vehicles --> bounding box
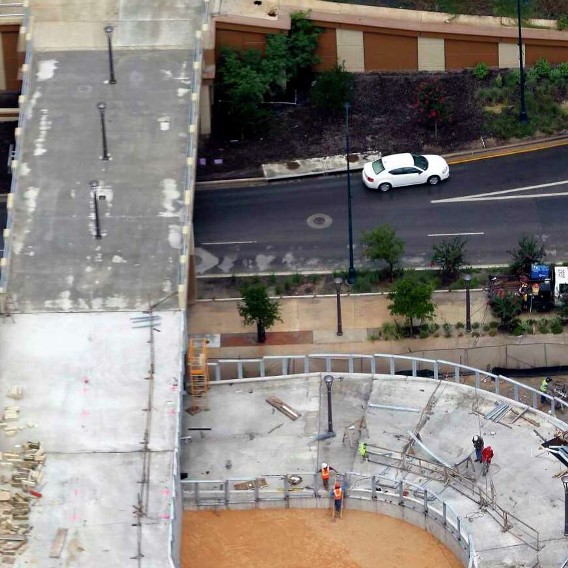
[487,261,568,316]
[358,148,451,191]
